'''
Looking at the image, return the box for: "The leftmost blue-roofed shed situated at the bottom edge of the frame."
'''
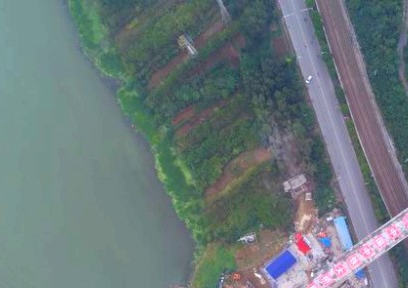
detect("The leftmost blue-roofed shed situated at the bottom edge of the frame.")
[268,251,294,277]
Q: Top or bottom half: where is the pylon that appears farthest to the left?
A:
top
